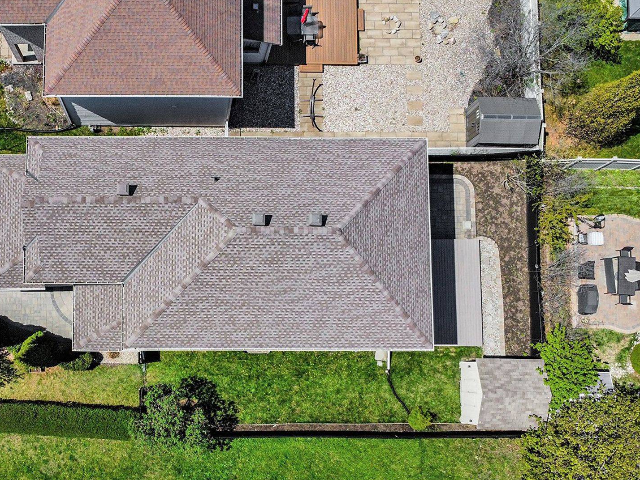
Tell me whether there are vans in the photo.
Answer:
No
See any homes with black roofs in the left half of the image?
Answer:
No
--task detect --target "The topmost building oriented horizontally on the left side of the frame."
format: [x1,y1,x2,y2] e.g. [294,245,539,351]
[0,0,284,126]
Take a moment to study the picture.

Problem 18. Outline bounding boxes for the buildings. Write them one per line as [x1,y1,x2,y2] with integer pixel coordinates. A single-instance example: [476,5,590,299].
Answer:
[465,97,544,150]
[0,0,284,126]
[460,358,554,430]
[0,135,436,370]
